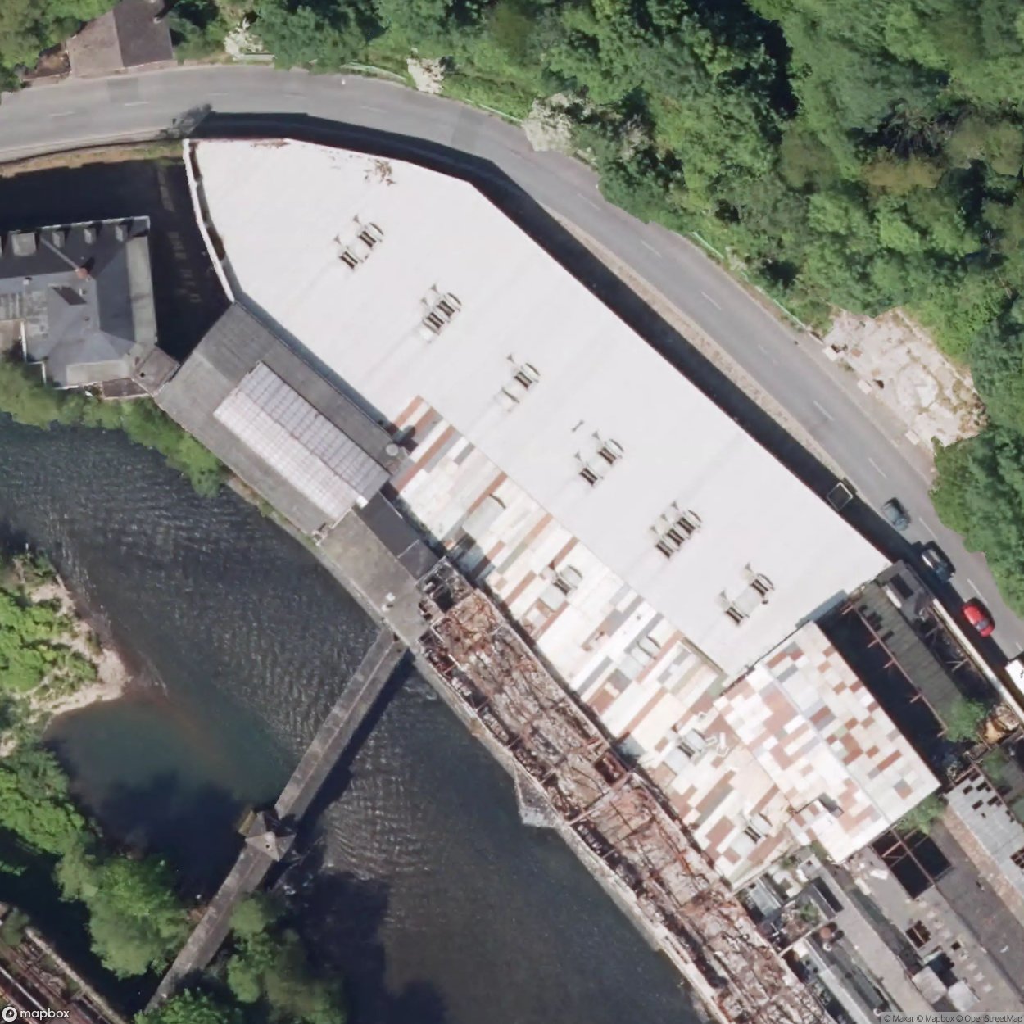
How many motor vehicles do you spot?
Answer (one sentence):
There are 3 motor vehicles in the image.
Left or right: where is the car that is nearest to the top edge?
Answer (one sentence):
You can find the car that is nearest to the top edge on the right side of the picture.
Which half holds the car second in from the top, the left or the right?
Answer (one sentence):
You can find the car second in from the top on the right side of the picture.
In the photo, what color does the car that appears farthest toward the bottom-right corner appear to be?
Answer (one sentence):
From above, the car that appears farthest toward the bottom-right corner appears red.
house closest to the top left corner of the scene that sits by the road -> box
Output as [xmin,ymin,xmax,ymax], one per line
[68,0,175,77]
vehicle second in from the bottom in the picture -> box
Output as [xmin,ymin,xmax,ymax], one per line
[922,546,955,584]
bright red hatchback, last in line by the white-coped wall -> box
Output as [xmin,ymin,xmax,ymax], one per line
[962,599,995,636]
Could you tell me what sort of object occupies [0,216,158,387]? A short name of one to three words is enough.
house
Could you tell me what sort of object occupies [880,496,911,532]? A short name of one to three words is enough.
car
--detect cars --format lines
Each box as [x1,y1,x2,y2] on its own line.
[922,546,955,584]
[880,496,911,532]
[962,599,995,636]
